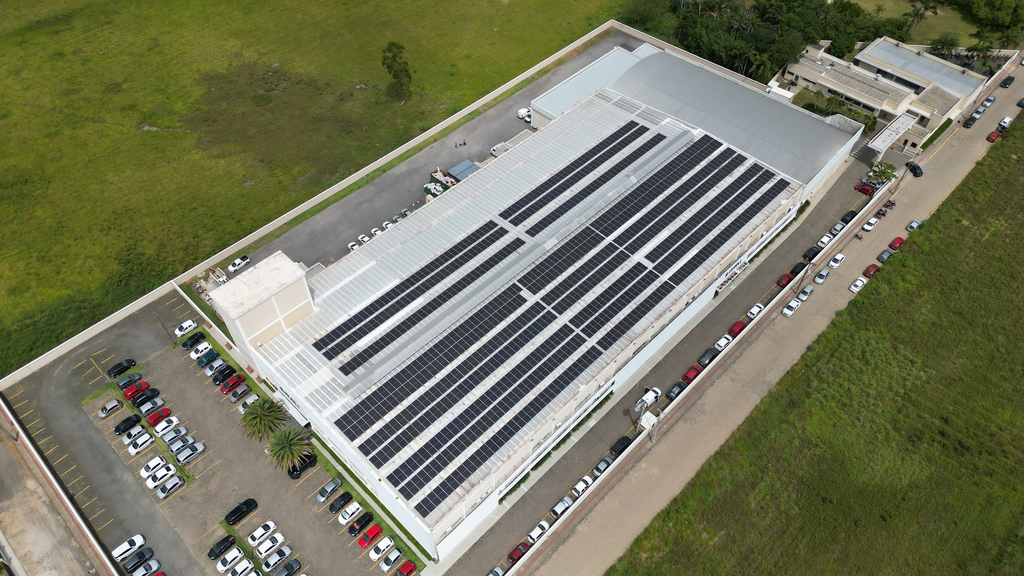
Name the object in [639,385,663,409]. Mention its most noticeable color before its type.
white truck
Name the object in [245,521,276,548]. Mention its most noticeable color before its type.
white car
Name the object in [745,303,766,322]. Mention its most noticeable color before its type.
white car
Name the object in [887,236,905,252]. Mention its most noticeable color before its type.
red car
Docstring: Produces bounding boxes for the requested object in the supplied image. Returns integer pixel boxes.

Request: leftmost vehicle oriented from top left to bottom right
[209,265,230,285]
